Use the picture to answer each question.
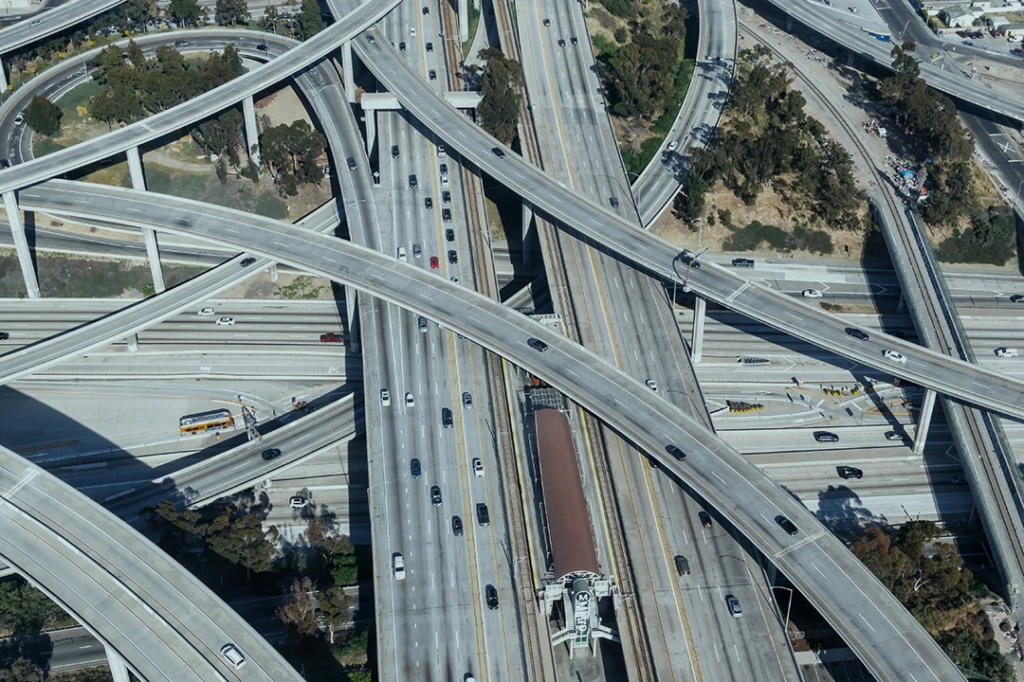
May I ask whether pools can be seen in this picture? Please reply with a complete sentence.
No, there's no pool here.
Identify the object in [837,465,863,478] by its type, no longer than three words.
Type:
vehicle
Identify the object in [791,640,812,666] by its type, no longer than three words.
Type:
shed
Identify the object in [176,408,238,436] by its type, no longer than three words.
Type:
bus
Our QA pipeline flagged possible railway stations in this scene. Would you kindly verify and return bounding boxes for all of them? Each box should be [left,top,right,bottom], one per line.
[512,311,620,659]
